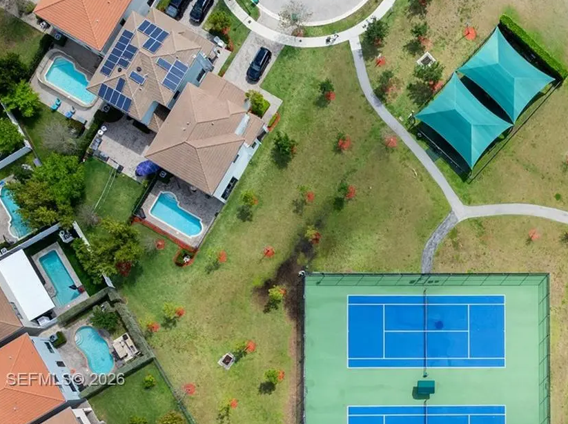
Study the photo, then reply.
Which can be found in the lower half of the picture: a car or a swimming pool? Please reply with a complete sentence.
You can see a swimming pool in the lower half of the picture.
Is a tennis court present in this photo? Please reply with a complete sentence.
Yes, the image includes a tennis court.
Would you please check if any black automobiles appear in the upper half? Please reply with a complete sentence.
Yes, you'll find a black automobile in the upper half.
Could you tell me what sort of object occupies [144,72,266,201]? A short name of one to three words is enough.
house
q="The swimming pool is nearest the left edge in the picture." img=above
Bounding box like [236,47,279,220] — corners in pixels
[0,183,28,238]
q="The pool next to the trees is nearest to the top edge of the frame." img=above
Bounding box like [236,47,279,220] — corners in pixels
[40,51,102,110]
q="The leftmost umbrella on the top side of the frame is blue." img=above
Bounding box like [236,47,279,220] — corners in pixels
[136,158,157,179]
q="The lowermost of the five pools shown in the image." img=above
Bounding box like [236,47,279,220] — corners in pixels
[73,324,115,377]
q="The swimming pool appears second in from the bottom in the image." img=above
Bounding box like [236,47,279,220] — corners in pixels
[36,247,84,309]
